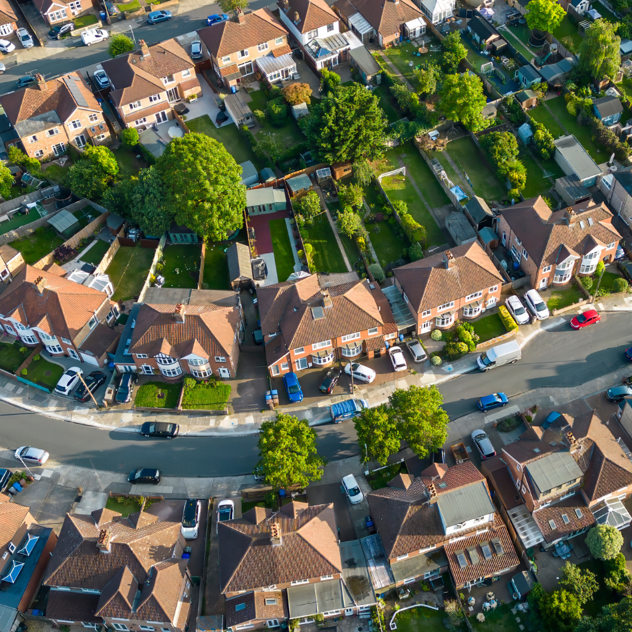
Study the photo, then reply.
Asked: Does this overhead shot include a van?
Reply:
Yes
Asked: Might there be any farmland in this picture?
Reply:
No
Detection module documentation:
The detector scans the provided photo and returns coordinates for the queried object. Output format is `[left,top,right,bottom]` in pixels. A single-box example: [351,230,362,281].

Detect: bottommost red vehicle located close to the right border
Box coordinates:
[569,310,603,330]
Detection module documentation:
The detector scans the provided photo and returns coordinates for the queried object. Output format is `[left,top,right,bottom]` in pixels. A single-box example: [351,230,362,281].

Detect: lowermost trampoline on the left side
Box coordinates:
[223,228,241,244]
